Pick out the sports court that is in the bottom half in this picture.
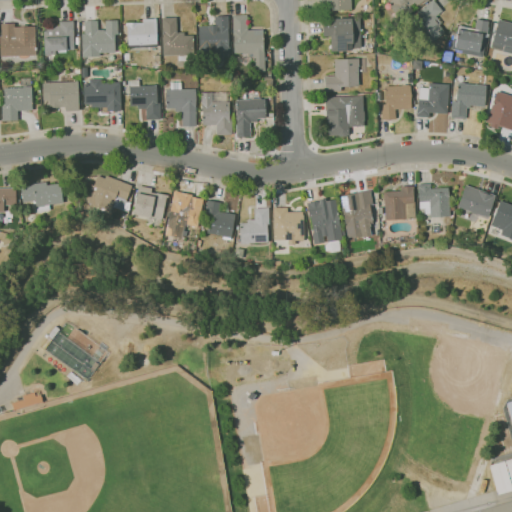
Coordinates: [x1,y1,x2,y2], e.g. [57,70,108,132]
[44,321,108,380]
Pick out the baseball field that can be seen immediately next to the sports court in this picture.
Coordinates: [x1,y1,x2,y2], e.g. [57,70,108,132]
[0,367,232,512]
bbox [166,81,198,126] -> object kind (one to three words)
house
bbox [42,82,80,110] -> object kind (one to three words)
house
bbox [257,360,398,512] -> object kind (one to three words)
baseball field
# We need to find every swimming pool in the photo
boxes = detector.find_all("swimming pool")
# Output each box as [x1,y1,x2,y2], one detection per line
[391,60,402,70]
[92,68,110,78]
[390,222,412,233]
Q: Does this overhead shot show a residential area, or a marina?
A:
residential area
